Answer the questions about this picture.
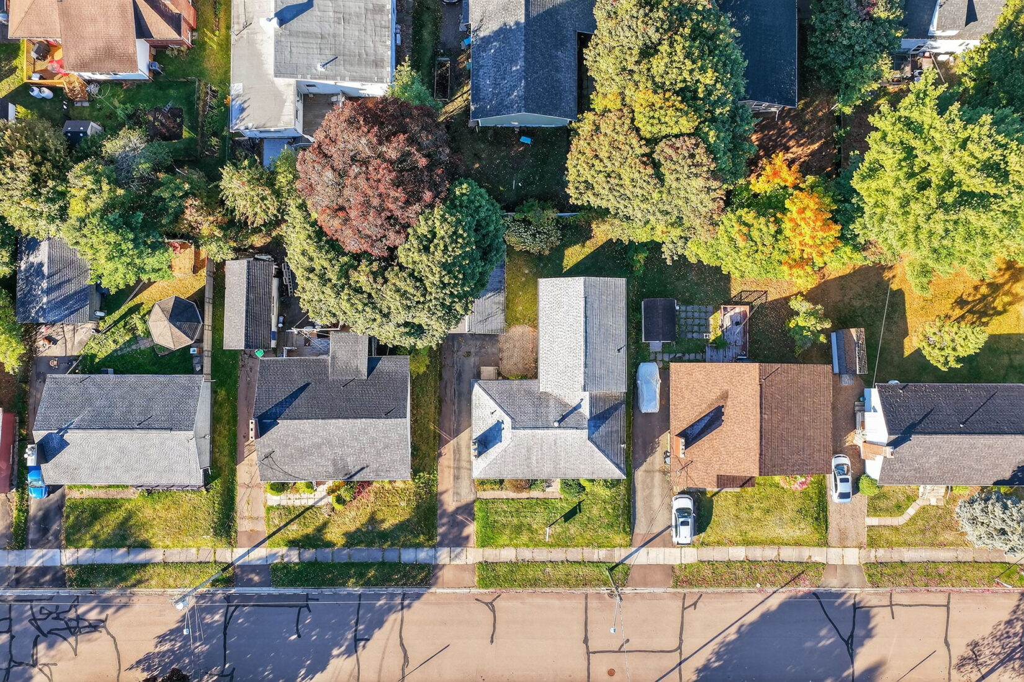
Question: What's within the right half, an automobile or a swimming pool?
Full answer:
It is an automobile that can be seen within the right half.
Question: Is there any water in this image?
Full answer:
No, there's no water in this view.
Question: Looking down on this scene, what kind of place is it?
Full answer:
The picture captures a residential area.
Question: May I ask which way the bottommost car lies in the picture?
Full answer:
What the image shows is the bottommost car lying vertically.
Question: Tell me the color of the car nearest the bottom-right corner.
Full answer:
In this view, the car nearest the bottom-right corner is white.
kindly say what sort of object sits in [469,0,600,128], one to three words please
house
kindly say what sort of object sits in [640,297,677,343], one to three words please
shed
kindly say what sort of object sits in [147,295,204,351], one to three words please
gazebo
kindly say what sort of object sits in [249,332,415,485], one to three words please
house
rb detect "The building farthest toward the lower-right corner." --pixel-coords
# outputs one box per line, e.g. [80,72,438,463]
[849,382,1024,500]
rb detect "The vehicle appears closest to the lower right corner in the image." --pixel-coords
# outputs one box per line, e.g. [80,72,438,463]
[829,453,854,503]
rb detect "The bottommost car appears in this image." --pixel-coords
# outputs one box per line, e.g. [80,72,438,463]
[670,493,695,545]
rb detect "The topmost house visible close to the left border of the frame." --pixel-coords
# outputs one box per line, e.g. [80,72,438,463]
[9,0,194,81]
